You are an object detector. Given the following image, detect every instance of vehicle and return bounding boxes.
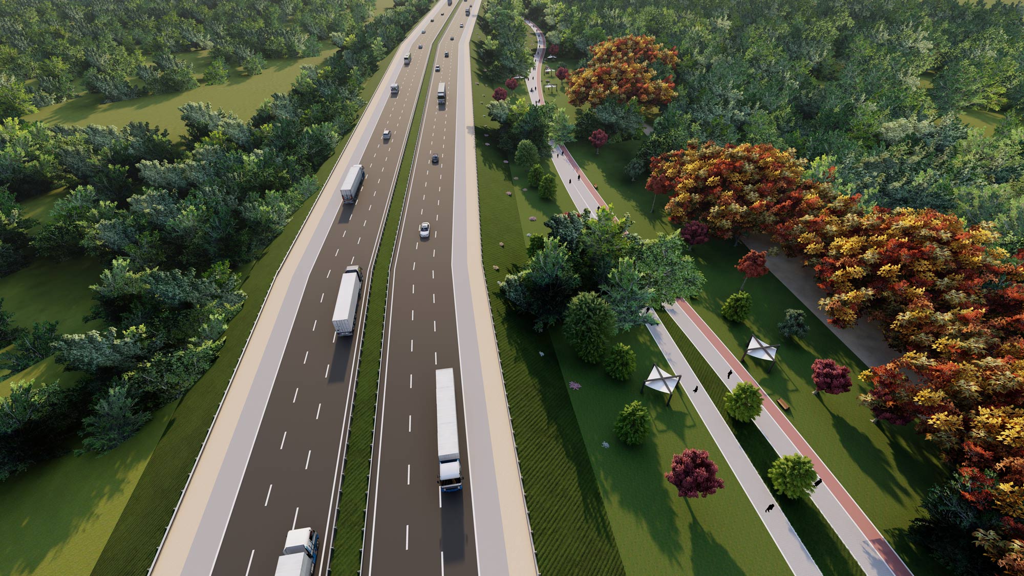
[434,366,462,491]
[404,52,411,63]
[341,163,366,202]
[383,130,391,137]
[391,85,398,93]
[437,82,446,103]
[465,6,470,14]
[331,264,362,334]
[432,152,439,161]
[274,524,319,576]
[420,223,430,235]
